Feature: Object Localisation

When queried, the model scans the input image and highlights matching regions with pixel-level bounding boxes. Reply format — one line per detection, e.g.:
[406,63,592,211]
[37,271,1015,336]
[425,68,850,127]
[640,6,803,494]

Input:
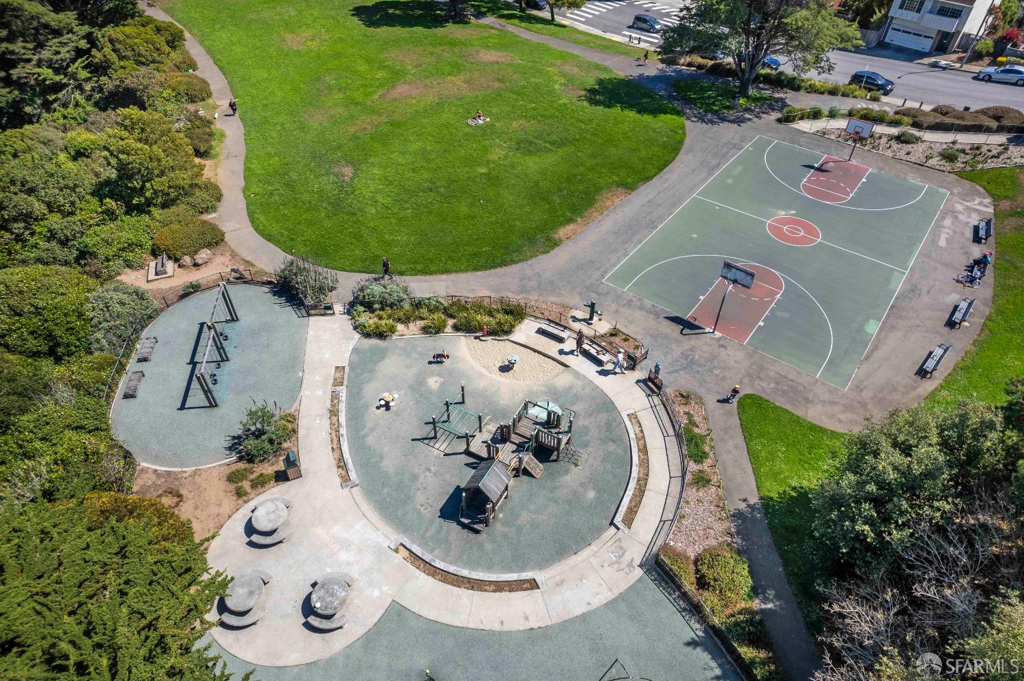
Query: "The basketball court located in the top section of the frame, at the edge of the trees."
[603,135,948,390]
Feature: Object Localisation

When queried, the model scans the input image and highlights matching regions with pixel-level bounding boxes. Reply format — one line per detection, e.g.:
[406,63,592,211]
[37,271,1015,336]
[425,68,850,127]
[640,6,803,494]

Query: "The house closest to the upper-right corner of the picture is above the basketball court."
[884,0,985,57]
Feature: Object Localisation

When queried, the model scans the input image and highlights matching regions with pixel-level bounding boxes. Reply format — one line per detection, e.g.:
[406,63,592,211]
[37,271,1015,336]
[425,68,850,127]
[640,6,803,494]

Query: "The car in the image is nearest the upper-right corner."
[978,60,1024,82]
